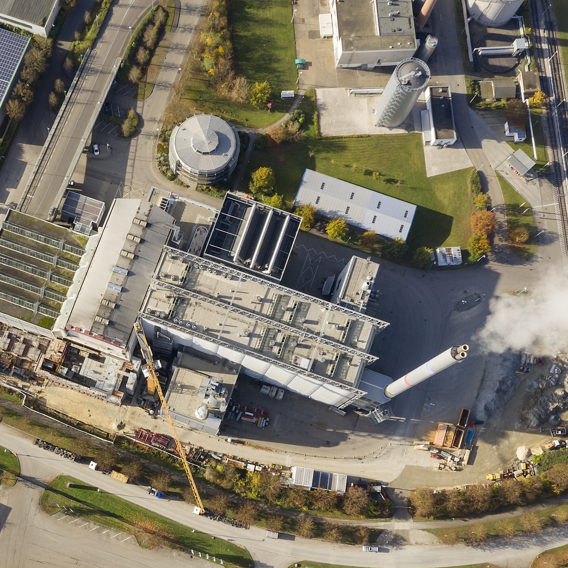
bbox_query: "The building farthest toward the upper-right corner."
[511,35,533,61]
